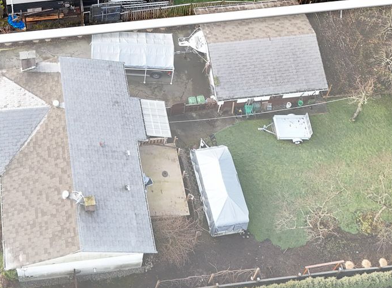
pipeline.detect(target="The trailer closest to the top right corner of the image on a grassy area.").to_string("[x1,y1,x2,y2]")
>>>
[246,111,318,145]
